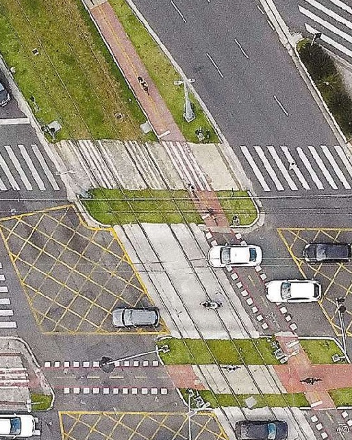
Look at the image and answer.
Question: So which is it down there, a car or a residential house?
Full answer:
Of the two, only a car appears.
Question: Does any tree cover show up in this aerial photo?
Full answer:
No, the scene doesn't show any tree cover.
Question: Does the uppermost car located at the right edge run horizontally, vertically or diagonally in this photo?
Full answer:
In this picture, the uppermost car located at the right edge lies horizontally.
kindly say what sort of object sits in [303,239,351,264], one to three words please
car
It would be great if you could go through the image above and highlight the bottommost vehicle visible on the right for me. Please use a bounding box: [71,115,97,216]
[235,419,287,440]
